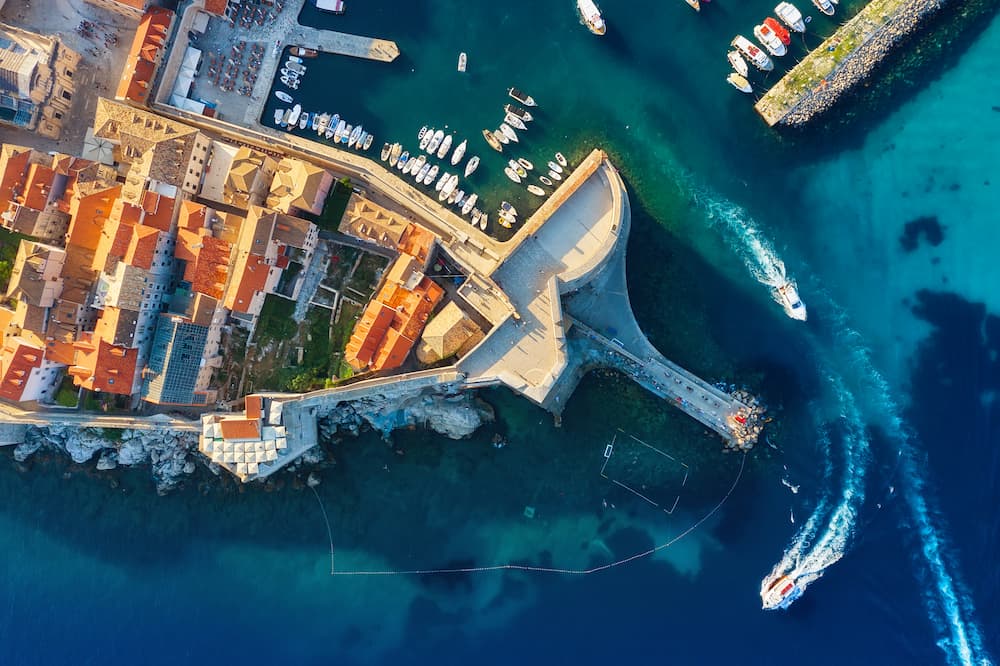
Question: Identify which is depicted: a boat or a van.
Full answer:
It is a boat that can be seen here.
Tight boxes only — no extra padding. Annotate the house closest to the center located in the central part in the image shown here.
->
[422,301,484,358]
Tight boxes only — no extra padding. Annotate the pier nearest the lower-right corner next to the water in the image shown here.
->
[562,250,749,437]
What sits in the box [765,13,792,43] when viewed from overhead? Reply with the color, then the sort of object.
red boat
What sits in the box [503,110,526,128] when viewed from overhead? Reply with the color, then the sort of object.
white boat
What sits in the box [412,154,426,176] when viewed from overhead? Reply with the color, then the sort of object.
white boat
